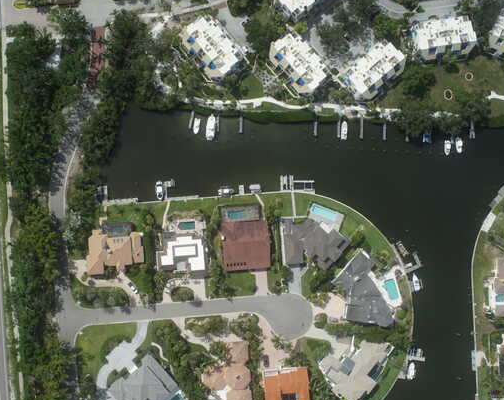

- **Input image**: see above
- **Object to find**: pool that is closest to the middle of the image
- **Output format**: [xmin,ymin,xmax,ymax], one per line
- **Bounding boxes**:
[221,204,261,221]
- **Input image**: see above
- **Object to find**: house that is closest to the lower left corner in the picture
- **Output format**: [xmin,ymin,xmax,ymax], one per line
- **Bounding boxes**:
[108,354,178,400]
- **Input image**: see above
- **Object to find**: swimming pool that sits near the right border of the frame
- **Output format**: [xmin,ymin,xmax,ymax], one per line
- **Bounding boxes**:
[491,276,504,305]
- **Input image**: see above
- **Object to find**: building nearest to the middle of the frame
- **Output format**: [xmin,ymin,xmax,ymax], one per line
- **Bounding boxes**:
[220,220,270,271]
